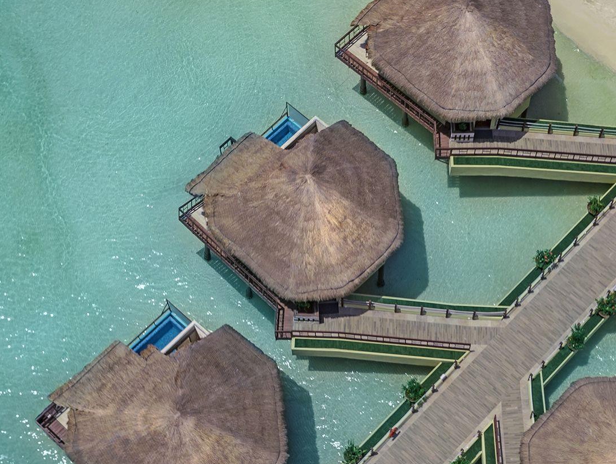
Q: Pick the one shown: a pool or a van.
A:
pool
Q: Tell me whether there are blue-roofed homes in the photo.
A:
No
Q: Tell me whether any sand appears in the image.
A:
Yes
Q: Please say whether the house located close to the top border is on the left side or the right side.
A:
right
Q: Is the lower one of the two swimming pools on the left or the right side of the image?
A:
left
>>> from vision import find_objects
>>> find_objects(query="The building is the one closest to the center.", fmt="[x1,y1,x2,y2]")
[177,102,404,342]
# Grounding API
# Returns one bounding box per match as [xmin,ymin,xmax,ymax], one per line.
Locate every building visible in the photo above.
[177,102,404,342]
[516,379,616,464]
[337,0,557,162]
[36,294,290,464]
